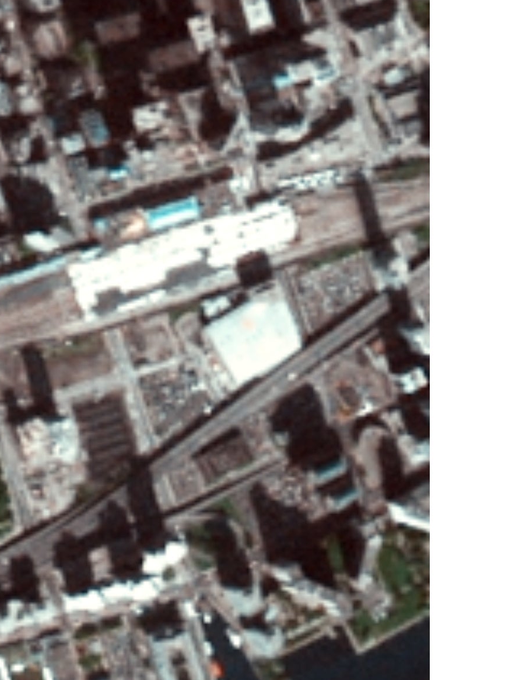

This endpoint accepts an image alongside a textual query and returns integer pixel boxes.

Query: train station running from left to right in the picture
[0,186,297,319]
